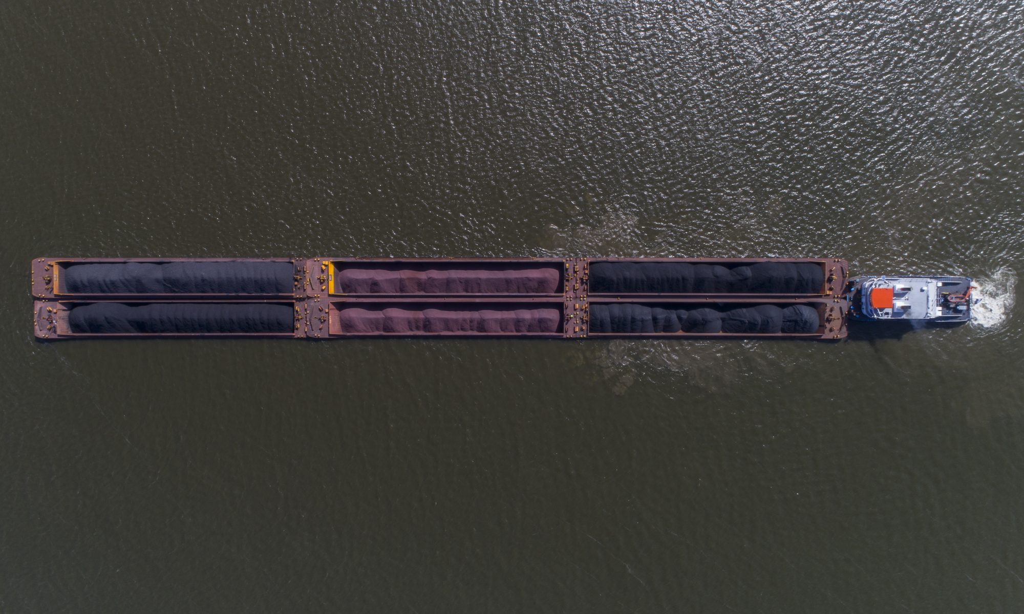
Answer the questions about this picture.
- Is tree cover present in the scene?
No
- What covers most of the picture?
water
